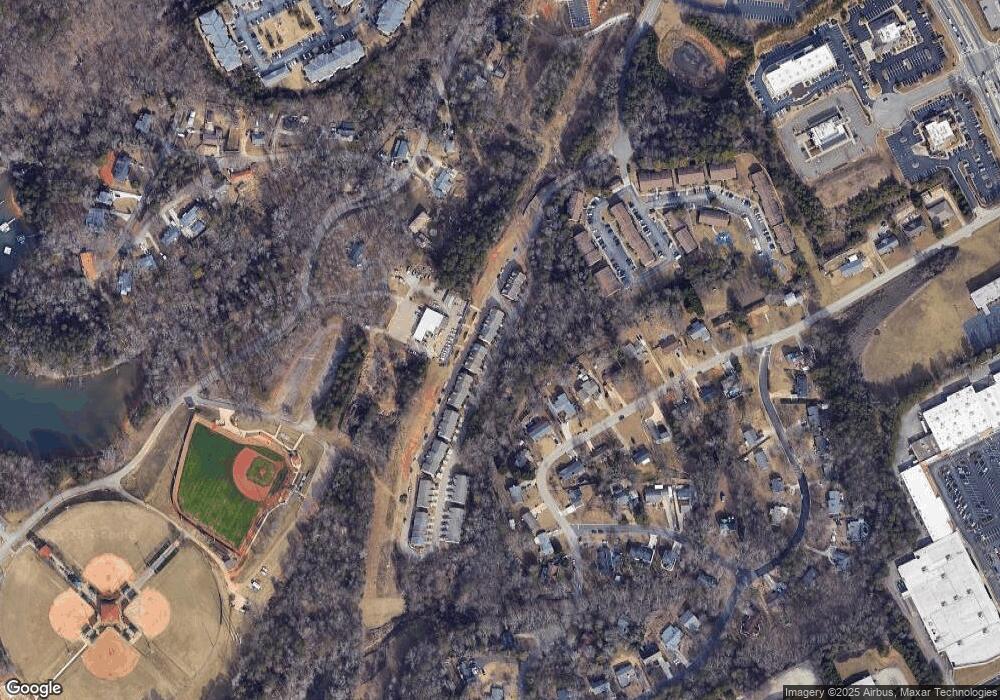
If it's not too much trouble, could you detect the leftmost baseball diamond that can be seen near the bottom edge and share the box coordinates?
[1,537,97,685]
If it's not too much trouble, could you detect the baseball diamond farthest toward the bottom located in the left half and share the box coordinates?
[35,626,184,700]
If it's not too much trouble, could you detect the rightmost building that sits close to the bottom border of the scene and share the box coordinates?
[898,531,1000,668]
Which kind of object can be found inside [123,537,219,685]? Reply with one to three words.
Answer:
baseball field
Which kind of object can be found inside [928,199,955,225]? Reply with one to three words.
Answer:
house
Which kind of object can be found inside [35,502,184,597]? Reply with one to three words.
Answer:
baseball field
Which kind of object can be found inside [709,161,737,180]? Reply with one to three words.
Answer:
building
